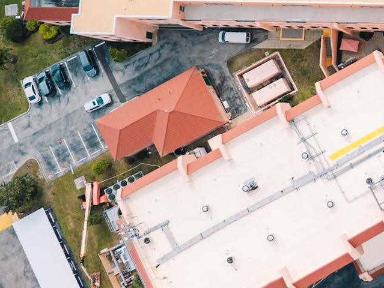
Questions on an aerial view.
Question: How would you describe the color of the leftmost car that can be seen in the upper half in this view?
white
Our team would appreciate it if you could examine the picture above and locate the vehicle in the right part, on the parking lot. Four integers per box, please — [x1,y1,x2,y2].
[218,30,254,45]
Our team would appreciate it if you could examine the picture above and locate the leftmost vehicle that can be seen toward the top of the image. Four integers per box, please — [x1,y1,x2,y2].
[23,74,45,106]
